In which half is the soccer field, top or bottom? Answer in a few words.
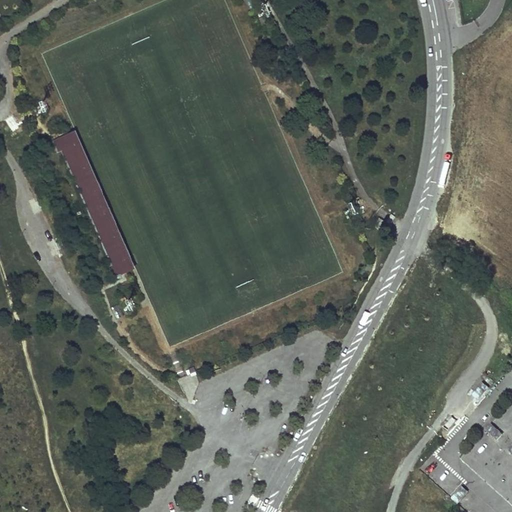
top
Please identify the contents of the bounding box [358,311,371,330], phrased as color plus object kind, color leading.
white vehicle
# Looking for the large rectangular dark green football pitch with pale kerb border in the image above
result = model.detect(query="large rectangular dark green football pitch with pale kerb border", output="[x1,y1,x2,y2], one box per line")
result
[41,0,343,348]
